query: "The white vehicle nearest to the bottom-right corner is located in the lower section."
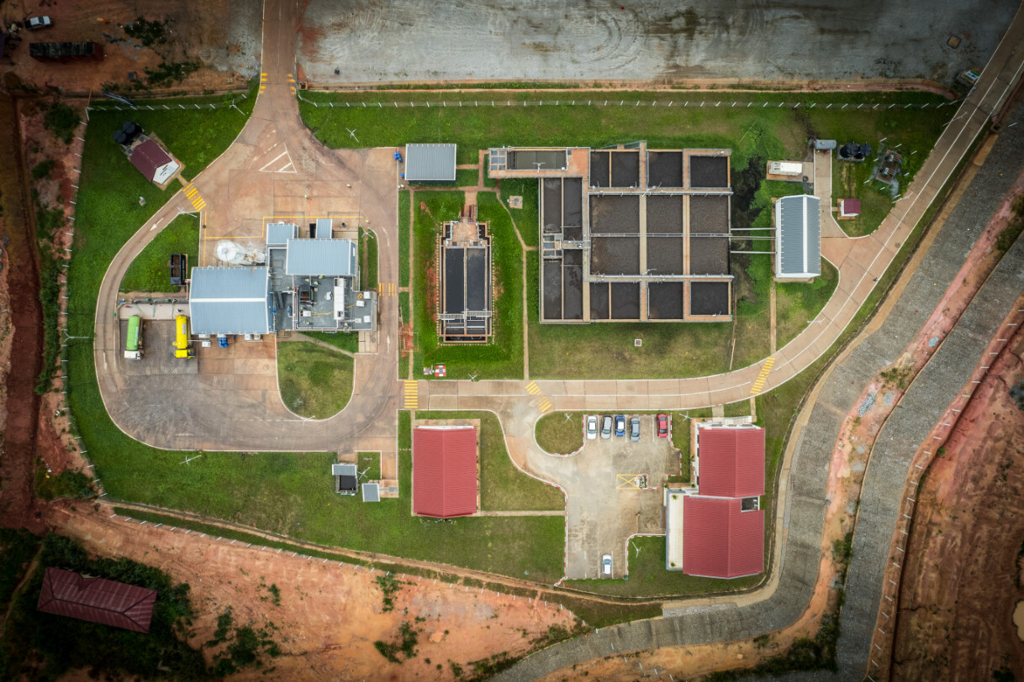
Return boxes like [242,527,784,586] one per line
[601,552,613,576]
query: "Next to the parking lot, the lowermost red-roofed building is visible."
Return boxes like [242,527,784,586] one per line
[662,486,764,581]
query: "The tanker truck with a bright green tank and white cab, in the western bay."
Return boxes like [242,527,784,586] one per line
[123,316,148,362]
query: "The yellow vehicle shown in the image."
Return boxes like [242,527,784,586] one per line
[178,317,197,361]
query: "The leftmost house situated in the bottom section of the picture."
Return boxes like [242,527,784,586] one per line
[37,567,158,633]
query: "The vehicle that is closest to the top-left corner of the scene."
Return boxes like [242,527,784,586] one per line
[24,15,55,31]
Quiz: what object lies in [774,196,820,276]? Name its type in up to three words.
house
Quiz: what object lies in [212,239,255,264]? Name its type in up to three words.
silo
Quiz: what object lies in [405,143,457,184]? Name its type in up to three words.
shed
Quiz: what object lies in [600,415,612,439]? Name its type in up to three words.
vehicle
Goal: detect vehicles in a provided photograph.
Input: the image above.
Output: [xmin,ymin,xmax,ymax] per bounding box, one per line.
[587,415,598,439]
[656,413,668,438]
[629,417,641,442]
[601,552,613,576]
[24,15,55,31]
[123,316,148,362]
[600,415,612,439]
[178,317,197,361]
[615,414,626,436]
